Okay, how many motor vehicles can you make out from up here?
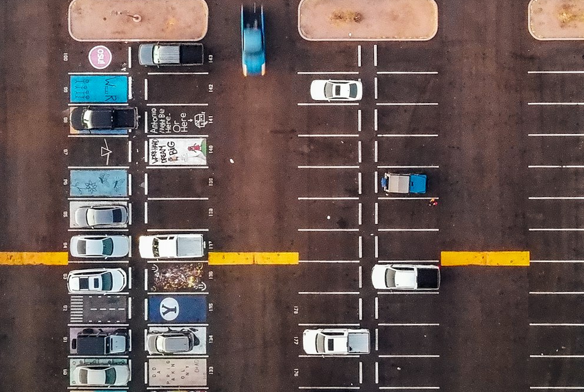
14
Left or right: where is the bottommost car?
left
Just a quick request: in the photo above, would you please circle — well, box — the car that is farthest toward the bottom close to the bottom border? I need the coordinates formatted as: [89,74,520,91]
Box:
[73,362,131,390]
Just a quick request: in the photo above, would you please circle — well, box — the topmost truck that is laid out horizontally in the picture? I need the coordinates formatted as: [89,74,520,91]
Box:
[138,41,205,68]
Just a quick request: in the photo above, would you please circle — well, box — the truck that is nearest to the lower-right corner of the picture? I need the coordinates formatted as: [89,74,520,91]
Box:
[372,264,441,294]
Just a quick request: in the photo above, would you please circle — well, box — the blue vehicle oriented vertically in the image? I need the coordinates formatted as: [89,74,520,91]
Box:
[240,6,267,75]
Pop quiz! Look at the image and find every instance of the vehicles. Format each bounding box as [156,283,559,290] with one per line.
[73,362,131,390]
[138,41,205,68]
[311,78,362,103]
[303,328,371,359]
[67,268,127,295]
[71,235,131,261]
[71,105,139,134]
[379,172,426,198]
[72,329,131,358]
[148,331,197,359]
[240,6,267,75]
[139,234,206,263]
[76,204,131,231]
[372,264,441,294]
